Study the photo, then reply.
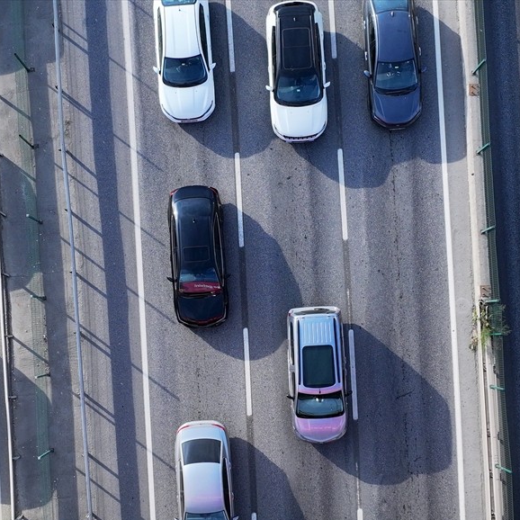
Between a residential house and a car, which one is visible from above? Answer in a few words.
car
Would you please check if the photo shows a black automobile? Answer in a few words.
Yes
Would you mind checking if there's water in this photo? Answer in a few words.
No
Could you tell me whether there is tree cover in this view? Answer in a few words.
No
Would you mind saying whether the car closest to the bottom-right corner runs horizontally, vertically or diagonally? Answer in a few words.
vertically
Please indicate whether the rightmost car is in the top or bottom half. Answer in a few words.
top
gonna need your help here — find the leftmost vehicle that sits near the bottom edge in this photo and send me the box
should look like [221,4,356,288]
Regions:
[172,420,239,520]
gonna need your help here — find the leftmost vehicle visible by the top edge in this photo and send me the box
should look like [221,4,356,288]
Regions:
[150,0,217,128]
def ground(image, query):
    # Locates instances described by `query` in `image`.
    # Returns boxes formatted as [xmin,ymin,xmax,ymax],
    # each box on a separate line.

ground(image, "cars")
[285,306,353,443]
[172,420,239,520]
[165,186,231,328]
[150,0,217,128]
[264,0,332,147]
[361,0,428,134]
